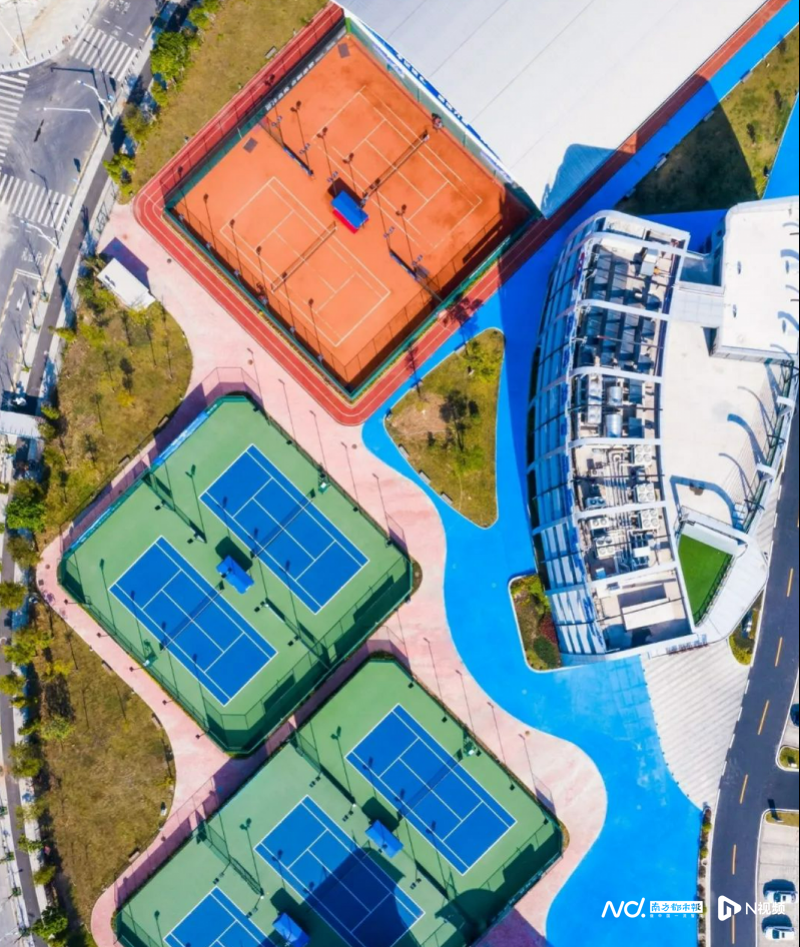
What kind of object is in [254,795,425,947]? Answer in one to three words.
tennis court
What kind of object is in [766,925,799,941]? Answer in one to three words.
car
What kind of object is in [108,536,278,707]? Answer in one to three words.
tennis court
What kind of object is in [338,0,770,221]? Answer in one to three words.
building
